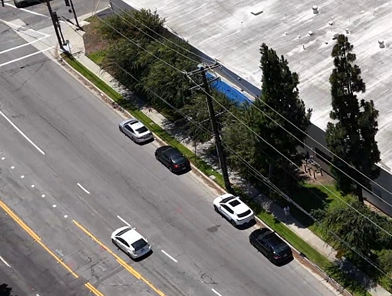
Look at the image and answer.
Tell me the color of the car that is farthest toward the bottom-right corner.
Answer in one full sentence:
The car that is farthest toward the bottom-right corner looks black in the image.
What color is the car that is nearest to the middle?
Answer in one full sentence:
The color of the car that is nearest to the middle is black.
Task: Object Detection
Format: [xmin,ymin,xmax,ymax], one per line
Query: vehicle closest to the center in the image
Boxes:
[155,147,191,176]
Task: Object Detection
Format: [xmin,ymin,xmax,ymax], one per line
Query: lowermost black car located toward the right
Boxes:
[249,231,294,268]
